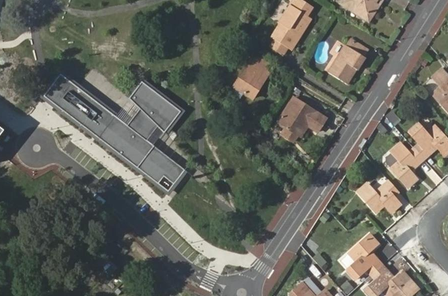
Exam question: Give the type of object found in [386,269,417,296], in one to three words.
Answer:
house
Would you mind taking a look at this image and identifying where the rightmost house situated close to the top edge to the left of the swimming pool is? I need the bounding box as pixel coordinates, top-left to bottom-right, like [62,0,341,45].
[271,0,314,56]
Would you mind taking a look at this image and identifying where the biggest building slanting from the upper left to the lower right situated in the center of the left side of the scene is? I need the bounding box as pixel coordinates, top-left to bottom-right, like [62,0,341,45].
[44,73,184,192]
